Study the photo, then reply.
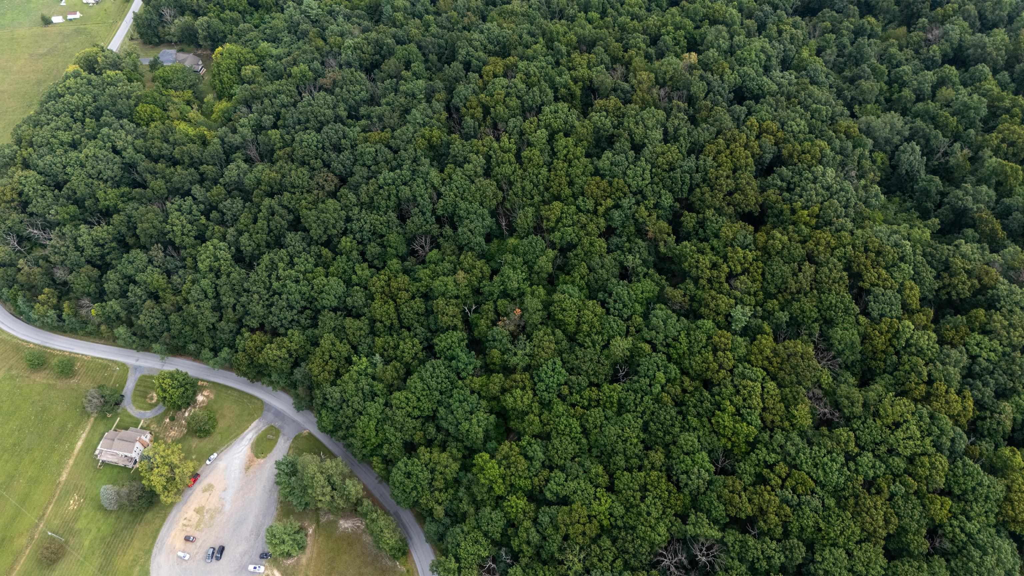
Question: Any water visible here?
No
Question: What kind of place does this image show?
forest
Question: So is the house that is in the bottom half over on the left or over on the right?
left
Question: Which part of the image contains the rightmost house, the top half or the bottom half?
top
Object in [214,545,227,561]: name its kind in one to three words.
vehicle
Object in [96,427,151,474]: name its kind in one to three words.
house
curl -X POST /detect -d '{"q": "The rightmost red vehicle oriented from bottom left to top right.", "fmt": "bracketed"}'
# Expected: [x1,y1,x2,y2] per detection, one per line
[187,473,202,489]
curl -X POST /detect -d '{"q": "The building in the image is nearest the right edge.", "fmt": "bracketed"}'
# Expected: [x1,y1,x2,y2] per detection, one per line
[170,51,206,77]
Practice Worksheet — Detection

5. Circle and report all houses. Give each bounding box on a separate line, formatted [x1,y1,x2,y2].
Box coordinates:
[170,51,206,77]
[96,427,151,474]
